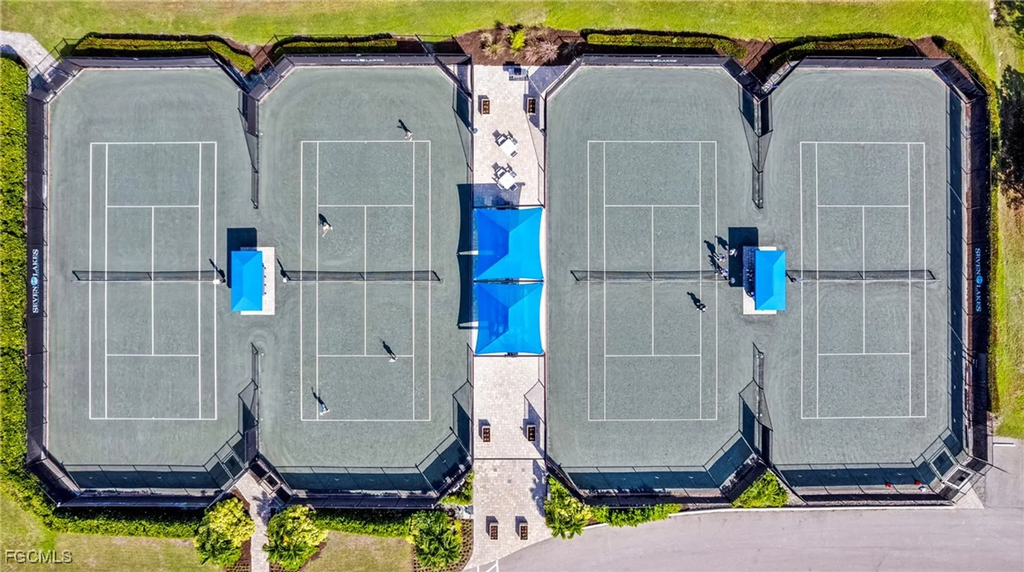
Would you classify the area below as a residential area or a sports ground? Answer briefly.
sports ground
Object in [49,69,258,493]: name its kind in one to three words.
tennis court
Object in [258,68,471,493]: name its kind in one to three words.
tennis court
